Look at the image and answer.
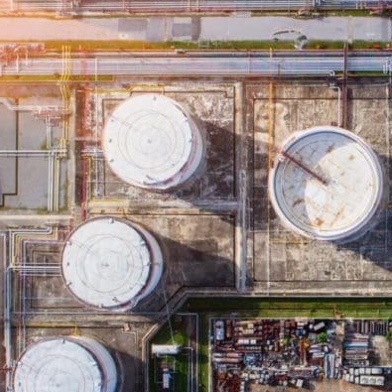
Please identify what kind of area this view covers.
industrial area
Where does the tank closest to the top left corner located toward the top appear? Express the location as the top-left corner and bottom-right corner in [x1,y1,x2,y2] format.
[102,96,207,196]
